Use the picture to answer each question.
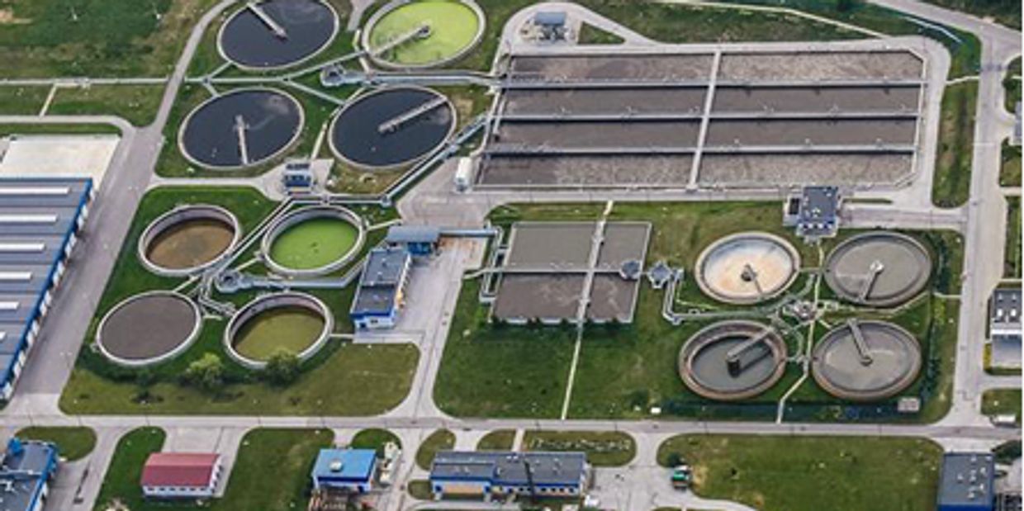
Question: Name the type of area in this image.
industrial area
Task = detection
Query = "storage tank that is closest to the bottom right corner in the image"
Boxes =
[811,319,922,402]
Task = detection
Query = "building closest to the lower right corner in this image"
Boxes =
[938,452,995,511]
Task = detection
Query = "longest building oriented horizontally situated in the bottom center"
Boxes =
[429,449,588,502]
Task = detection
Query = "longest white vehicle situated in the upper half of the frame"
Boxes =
[458,154,474,184]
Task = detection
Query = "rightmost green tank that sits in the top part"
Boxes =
[362,0,485,71]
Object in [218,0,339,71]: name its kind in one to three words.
storage tank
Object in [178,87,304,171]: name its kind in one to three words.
storage tank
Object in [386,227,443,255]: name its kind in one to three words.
building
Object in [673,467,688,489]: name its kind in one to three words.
vehicle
